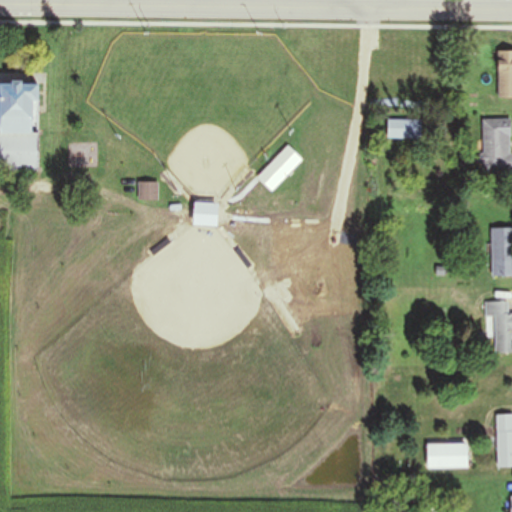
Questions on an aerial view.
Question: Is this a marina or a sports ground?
sports ground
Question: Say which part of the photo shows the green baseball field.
top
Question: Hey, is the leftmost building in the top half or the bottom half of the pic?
top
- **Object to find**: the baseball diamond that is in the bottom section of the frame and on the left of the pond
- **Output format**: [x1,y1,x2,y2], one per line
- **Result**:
[37,224,330,480]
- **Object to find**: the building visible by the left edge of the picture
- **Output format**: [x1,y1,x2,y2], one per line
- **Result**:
[0,80,40,169]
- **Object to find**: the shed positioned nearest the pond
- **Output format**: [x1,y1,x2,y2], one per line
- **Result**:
[427,442,470,470]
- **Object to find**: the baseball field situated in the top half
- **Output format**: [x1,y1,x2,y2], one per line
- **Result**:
[89,34,351,227]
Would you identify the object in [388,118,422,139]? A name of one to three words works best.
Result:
shed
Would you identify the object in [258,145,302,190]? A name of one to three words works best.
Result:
building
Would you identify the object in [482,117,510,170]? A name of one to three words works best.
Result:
house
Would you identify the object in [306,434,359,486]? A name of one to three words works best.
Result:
pond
